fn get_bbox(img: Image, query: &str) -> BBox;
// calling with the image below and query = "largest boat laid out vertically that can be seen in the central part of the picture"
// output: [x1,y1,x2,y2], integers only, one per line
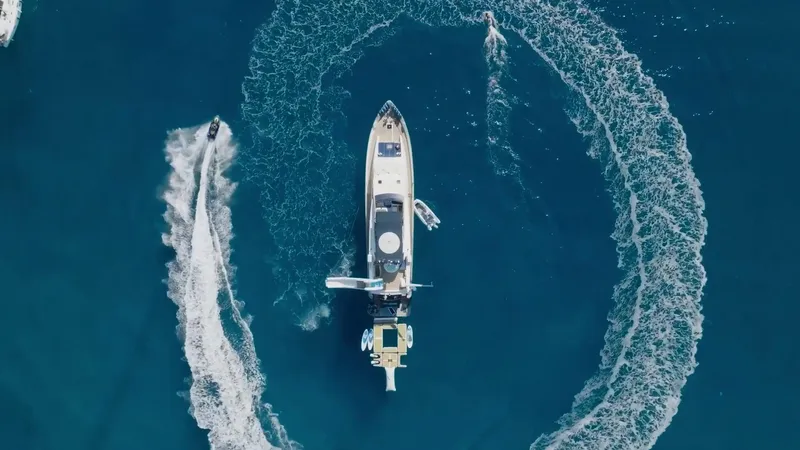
[365,99,432,316]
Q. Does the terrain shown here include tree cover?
No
